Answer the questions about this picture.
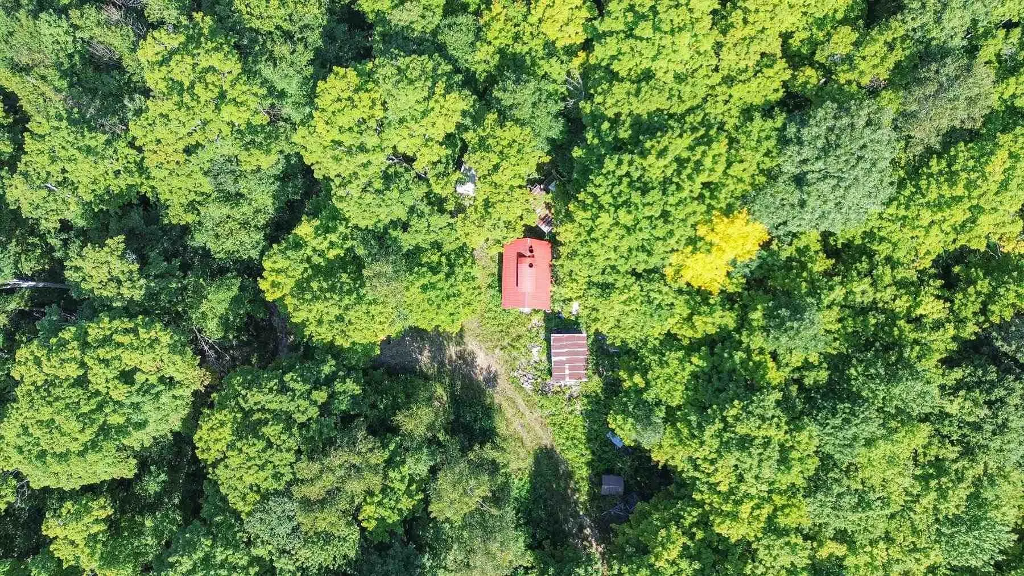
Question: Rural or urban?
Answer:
rural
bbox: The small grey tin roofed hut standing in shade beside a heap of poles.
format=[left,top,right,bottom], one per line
[600,471,624,495]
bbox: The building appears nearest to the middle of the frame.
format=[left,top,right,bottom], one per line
[502,238,552,313]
